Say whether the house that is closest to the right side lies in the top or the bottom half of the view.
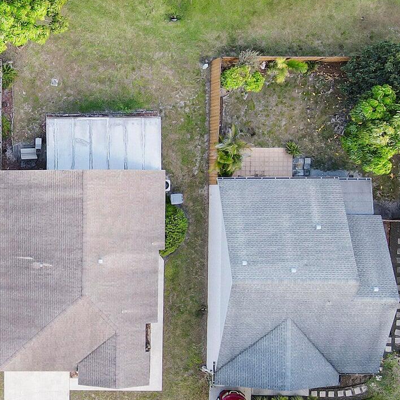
bottom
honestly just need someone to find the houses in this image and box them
[208,176,399,391]
[0,116,166,389]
